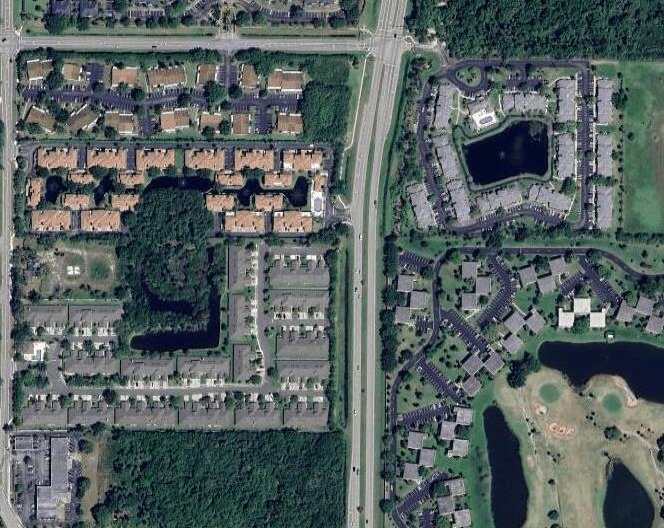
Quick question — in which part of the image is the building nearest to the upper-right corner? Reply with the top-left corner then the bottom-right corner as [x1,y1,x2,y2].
[597,80,615,124]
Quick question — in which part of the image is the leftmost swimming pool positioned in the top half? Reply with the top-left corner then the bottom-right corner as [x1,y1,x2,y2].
[312,193,325,216]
